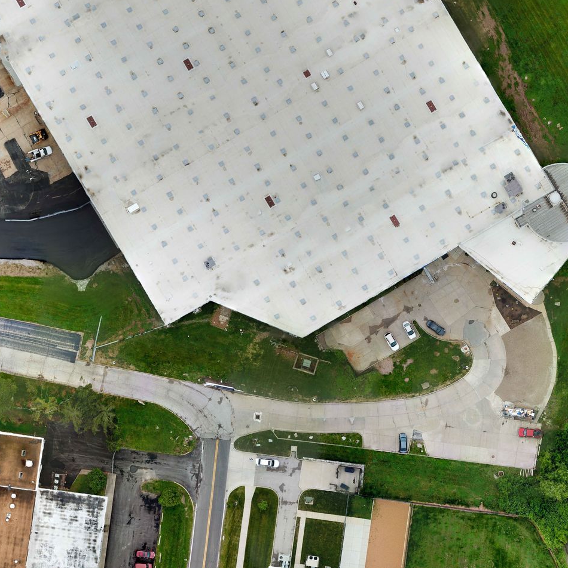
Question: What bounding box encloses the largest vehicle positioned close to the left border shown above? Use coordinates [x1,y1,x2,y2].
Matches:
[25,147,54,161]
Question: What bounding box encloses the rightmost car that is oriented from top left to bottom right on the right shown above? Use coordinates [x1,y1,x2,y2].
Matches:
[426,319,446,336]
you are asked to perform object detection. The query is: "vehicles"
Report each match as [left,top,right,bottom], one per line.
[384,333,400,353]
[257,459,279,468]
[399,434,408,454]
[426,319,446,336]
[27,130,46,145]
[402,322,417,342]
[25,147,54,161]
[132,562,156,568]
[137,550,155,559]
[518,428,542,438]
